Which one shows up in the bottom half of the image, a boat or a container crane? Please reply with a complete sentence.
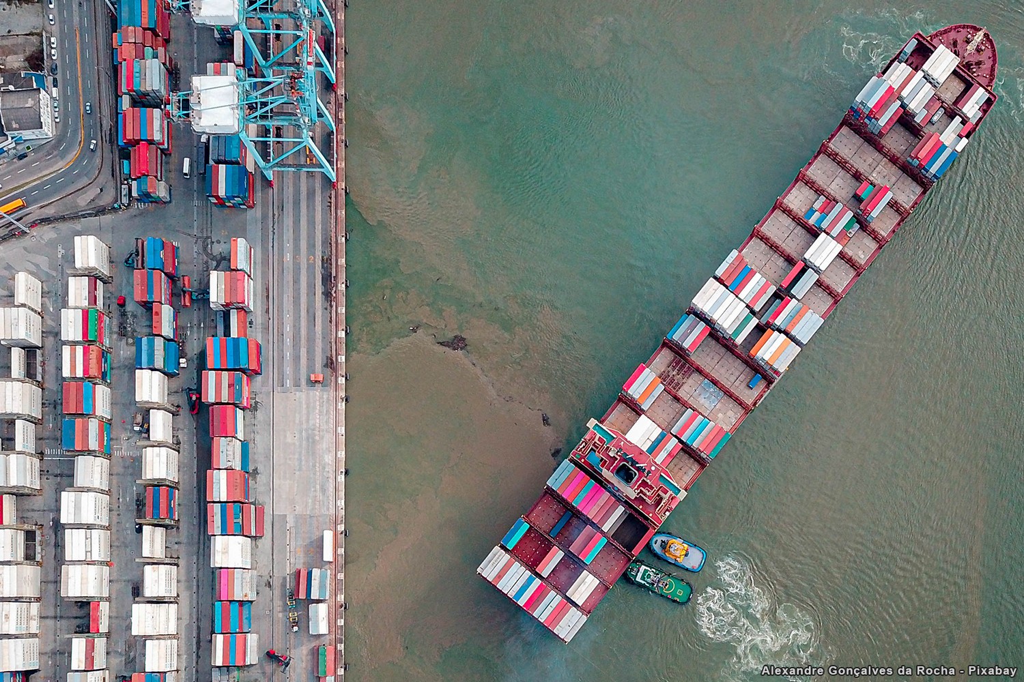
There is a boat in the bottom half of the image.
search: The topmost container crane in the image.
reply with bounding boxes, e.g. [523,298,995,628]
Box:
[162,0,336,92]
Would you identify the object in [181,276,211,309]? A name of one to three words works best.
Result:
work vehicle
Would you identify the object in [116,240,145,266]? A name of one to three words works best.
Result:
work vehicle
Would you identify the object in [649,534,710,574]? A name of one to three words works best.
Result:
boat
